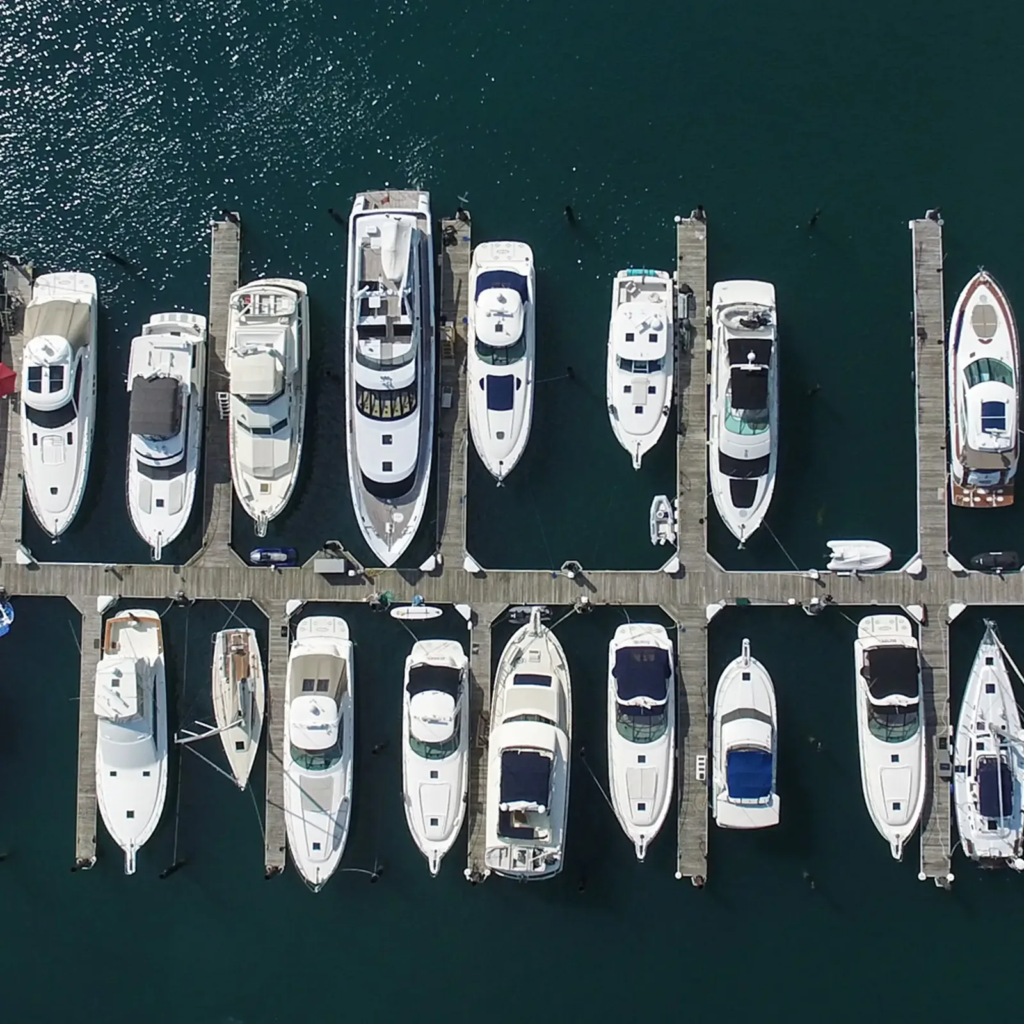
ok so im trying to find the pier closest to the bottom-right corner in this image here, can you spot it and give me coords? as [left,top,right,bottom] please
[899,604,967,886]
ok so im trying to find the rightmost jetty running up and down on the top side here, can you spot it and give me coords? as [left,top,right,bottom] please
[899,211,965,573]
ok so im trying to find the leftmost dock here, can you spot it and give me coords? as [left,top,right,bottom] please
[0,259,41,565]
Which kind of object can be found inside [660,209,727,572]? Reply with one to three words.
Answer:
pier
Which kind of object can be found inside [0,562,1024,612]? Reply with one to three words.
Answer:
pier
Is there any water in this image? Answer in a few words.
Yes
